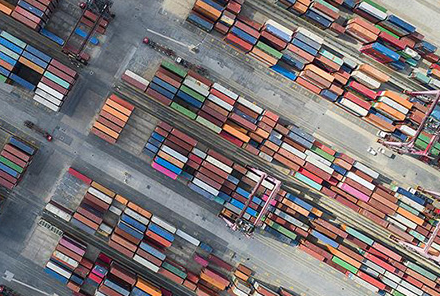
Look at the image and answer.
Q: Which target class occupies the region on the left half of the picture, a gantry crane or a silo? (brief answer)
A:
gantry crane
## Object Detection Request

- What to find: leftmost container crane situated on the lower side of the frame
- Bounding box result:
[214,163,282,240]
